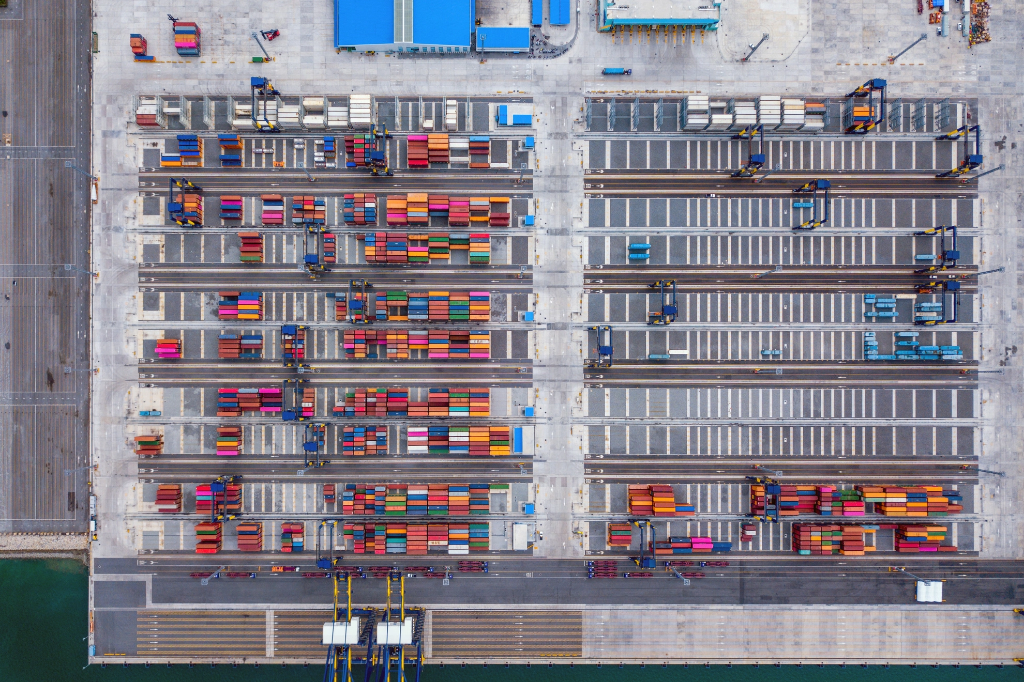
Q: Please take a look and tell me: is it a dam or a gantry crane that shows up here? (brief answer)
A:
gantry crane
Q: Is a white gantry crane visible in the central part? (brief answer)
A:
No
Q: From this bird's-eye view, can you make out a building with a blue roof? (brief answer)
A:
Yes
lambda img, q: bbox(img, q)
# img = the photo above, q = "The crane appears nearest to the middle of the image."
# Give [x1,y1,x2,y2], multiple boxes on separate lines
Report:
[589,324,614,368]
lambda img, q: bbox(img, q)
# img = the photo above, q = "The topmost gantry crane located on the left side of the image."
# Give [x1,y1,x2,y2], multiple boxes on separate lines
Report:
[250,77,279,132]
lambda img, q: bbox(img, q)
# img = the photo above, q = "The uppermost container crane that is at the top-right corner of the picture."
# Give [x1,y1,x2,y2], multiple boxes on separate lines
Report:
[847,78,888,133]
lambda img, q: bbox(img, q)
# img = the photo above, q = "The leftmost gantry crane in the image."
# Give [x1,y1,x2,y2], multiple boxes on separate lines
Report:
[167,178,202,228]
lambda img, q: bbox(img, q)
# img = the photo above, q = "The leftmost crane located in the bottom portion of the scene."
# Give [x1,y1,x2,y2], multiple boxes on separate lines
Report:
[210,475,242,523]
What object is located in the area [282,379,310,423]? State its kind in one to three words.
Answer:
container crane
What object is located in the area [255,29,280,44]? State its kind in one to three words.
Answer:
work vehicle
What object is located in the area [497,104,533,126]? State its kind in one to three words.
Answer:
building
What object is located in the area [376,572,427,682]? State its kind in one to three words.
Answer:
container crane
